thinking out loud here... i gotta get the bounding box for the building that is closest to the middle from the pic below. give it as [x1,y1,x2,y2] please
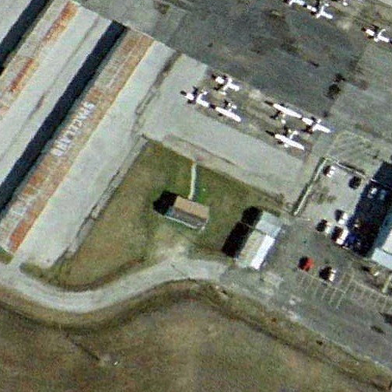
[164,197,209,227]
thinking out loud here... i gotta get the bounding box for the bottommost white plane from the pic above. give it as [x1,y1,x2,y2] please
[275,128,305,151]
